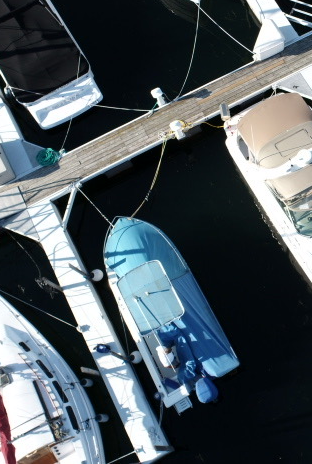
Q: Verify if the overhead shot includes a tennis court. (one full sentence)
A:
No, there isn't any tennis court down there.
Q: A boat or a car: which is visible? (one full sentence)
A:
Of the two, only a boat appears.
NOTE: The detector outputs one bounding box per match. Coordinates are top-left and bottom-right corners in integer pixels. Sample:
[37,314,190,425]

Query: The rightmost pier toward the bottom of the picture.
[32,194,172,464]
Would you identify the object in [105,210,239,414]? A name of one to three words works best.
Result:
boat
